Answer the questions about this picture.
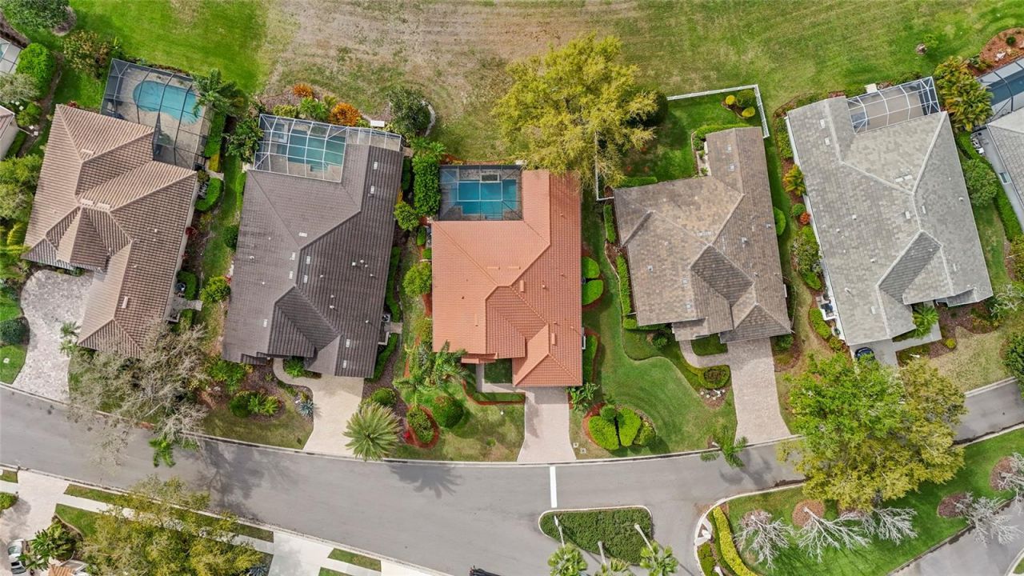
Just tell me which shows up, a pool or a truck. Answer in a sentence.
It is a pool that can be seen here.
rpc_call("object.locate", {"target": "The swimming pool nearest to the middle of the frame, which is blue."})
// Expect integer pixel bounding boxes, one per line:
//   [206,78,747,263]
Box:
[442,170,520,220]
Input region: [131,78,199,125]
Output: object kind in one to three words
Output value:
swimming pool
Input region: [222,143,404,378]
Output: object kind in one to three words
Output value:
house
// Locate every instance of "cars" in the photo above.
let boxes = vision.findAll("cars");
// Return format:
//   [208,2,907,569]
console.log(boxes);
[467,566,507,576]
[853,343,882,388]
[0,533,26,576]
